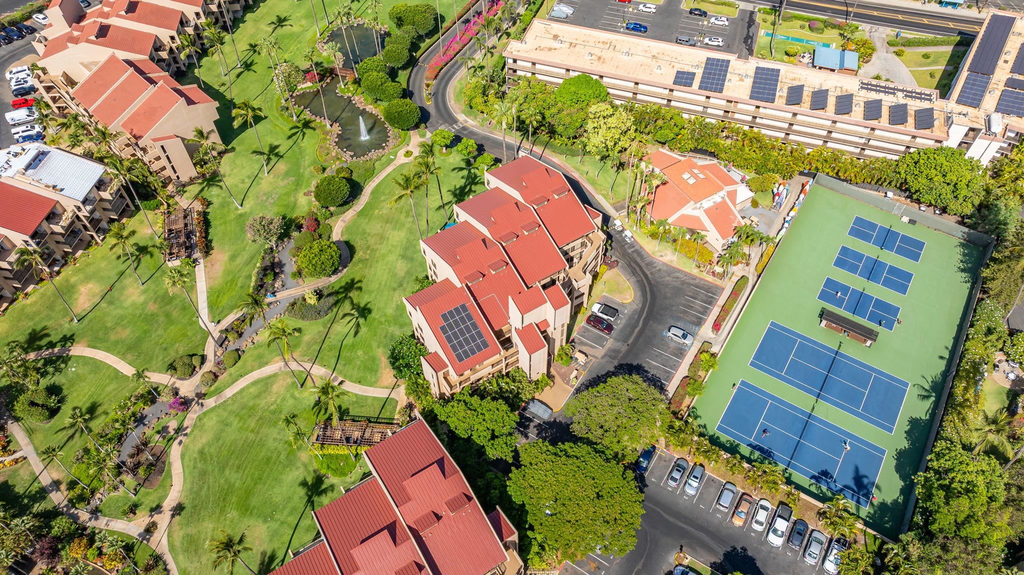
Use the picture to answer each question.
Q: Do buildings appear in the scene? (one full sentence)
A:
Yes, a building can be made out from above.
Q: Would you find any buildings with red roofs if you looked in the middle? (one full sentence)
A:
Yes, a building with a red roof can be seen in the middle.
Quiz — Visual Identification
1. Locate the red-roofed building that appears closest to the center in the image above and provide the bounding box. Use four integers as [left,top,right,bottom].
[399,150,607,395]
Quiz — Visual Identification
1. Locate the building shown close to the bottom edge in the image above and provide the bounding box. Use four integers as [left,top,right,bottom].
[256,413,524,575]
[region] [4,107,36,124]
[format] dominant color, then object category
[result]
white vehicle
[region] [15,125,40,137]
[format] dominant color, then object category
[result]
white vehicle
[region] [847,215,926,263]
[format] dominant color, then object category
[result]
blue sports court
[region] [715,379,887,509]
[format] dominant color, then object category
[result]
blue tennis court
